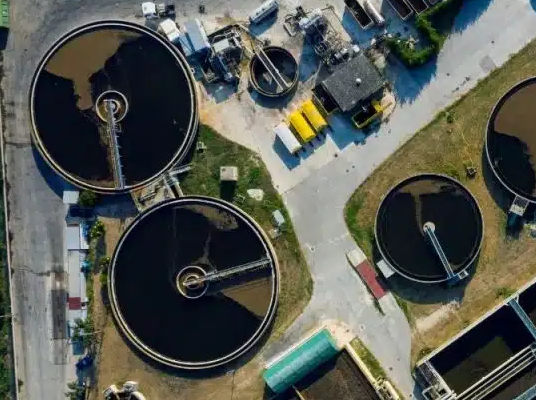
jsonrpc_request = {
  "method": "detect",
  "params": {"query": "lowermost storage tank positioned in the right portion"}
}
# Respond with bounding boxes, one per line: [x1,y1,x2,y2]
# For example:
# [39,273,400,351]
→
[375,174,483,282]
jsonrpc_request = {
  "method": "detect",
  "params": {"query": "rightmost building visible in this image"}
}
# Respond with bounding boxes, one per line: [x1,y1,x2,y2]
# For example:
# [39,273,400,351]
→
[322,54,384,113]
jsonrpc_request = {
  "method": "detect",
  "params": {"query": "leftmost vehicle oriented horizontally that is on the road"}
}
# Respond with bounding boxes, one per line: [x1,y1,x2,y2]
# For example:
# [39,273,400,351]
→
[144,1,178,18]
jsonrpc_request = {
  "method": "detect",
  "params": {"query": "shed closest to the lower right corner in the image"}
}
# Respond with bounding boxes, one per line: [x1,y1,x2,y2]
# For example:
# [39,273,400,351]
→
[261,321,339,392]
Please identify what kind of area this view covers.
industrial area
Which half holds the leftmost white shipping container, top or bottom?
top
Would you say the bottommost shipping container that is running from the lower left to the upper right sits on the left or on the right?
right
